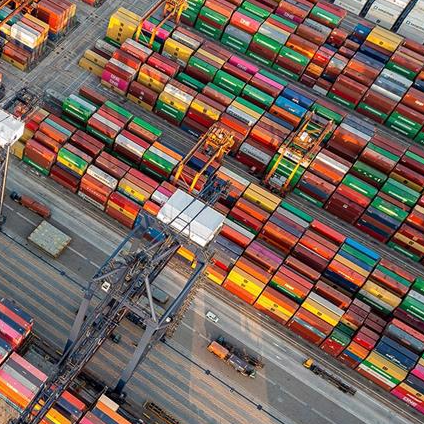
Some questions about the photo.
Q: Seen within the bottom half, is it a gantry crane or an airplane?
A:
gantry crane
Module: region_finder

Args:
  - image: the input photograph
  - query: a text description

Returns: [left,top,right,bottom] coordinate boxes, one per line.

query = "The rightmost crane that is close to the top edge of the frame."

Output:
[133,0,188,50]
